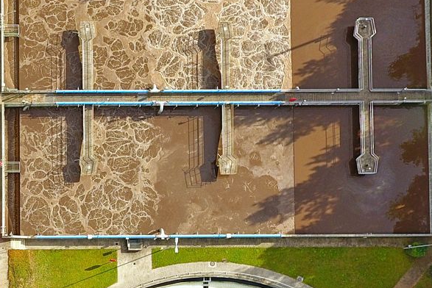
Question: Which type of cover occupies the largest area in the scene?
water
